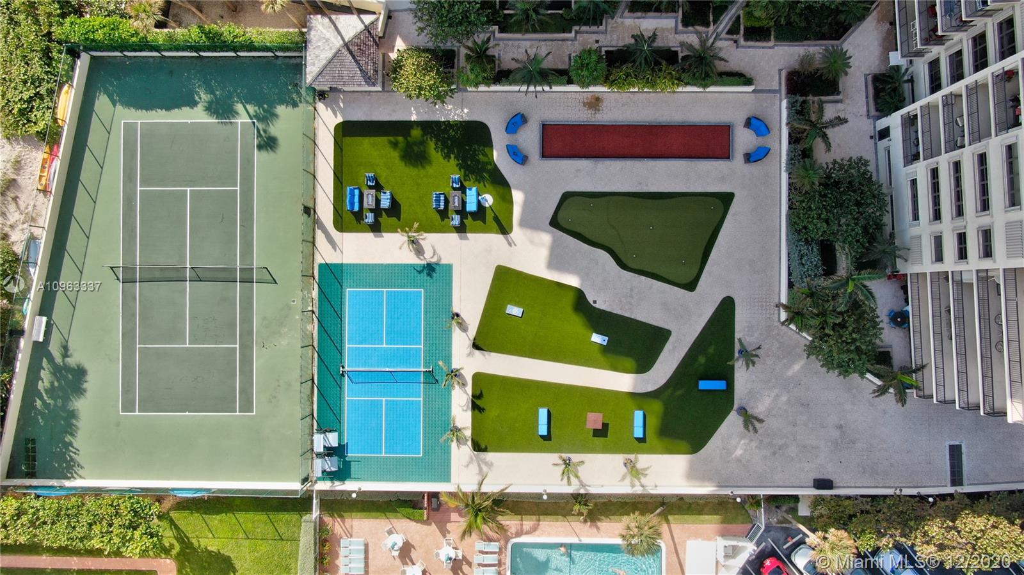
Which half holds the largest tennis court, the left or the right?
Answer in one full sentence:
The largest tennis court appears in the left half of the scene.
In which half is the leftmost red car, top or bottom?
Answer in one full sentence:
You can find the leftmost red car in the bottom half.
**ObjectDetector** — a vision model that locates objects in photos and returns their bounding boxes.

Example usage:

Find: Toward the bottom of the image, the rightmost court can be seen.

[316,263,452,482]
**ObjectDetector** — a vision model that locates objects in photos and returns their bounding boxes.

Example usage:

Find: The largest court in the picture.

[6,55,313,481]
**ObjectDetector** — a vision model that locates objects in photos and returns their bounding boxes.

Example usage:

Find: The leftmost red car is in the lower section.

[755,552,790,575]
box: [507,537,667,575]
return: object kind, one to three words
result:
swimming pool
